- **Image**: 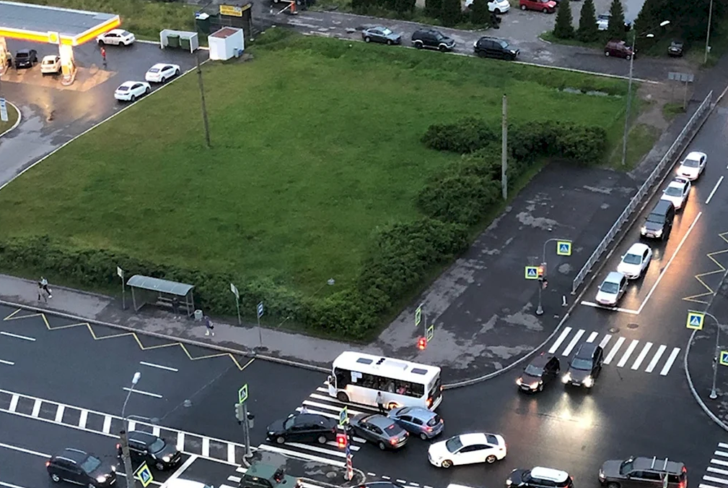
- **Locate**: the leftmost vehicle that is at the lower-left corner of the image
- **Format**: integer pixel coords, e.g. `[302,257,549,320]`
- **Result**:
[43,443,119,488]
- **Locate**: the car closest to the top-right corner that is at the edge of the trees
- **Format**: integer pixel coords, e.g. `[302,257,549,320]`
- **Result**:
[667,41,687,59]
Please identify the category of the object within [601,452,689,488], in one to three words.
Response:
car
